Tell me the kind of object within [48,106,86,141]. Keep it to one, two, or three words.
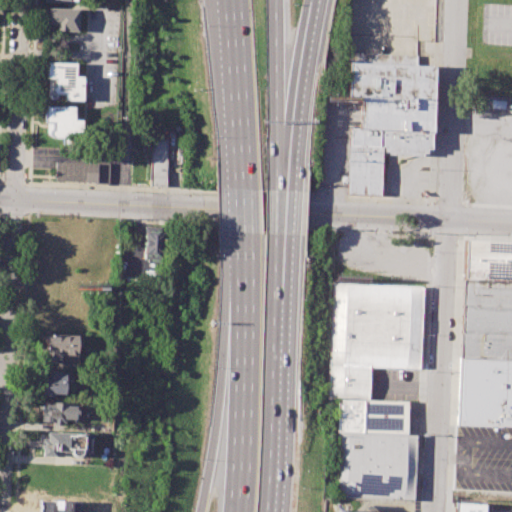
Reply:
building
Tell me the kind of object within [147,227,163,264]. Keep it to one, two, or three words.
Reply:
house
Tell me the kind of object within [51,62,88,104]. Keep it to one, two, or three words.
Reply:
building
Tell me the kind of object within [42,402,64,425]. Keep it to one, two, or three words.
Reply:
house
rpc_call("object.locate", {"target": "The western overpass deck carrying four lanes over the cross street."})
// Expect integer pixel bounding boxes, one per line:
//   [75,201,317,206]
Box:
[220,189,264,235]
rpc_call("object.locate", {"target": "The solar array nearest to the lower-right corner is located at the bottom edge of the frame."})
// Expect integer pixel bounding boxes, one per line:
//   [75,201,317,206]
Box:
[362,475,402,496]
